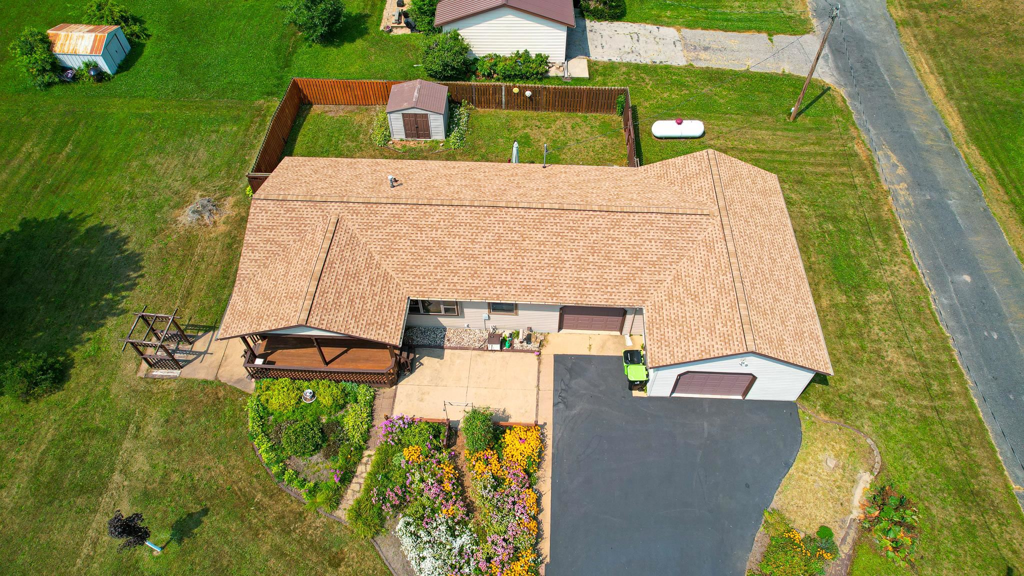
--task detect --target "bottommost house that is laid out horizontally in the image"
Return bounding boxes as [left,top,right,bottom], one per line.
[215,146,834,402]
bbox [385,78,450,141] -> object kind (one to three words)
shed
